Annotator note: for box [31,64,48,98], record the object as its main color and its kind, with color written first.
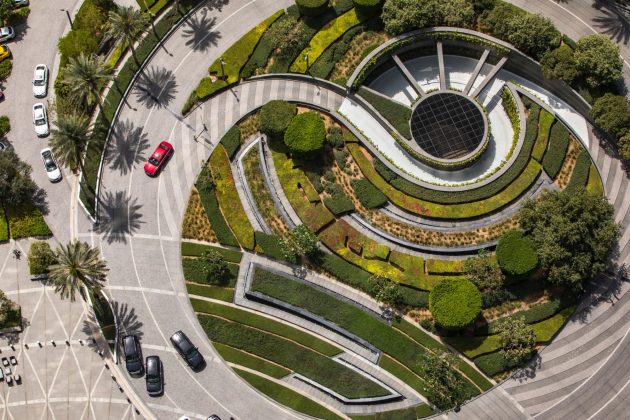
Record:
white car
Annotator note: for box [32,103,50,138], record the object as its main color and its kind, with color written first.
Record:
white car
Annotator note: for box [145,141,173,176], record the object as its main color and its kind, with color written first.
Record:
red car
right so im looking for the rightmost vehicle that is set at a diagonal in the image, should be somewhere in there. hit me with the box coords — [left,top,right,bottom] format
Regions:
[169,332,205,372]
